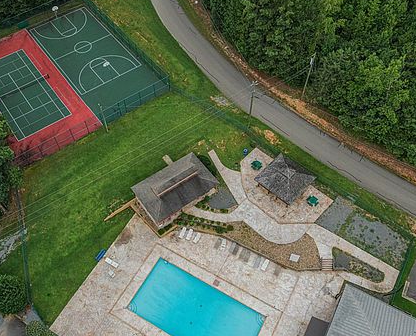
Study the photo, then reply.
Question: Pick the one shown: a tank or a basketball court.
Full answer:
The one in the frame is a basketball court.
